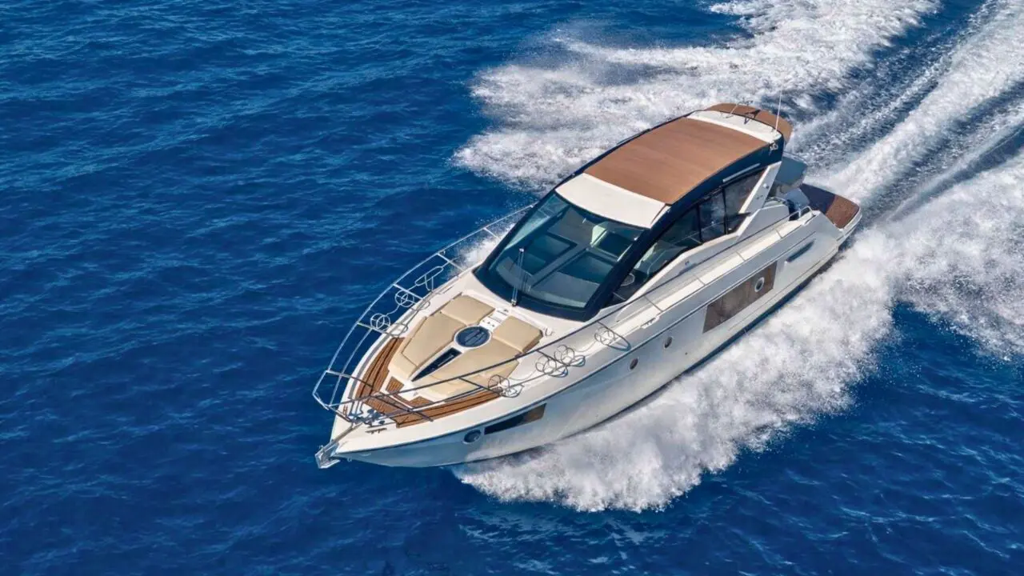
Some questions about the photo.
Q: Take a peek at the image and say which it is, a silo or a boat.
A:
boat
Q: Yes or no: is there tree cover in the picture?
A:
No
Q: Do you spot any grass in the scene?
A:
No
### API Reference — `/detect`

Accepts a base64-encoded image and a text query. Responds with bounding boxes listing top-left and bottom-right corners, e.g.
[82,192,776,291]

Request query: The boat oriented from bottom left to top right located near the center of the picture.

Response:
[304,75,865,470]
